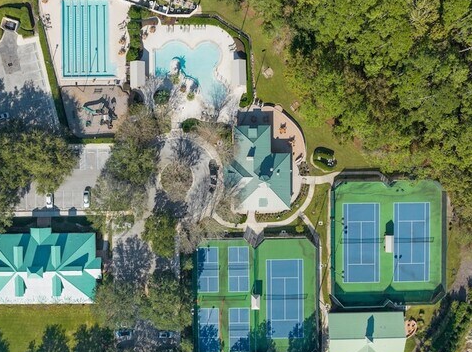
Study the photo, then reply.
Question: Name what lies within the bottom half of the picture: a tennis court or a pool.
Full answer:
It is a tennis court that can be seen within the bottom half of the picture.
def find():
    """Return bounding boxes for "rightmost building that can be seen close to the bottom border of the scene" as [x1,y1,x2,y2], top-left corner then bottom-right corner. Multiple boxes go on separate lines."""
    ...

[327,311,408,352]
